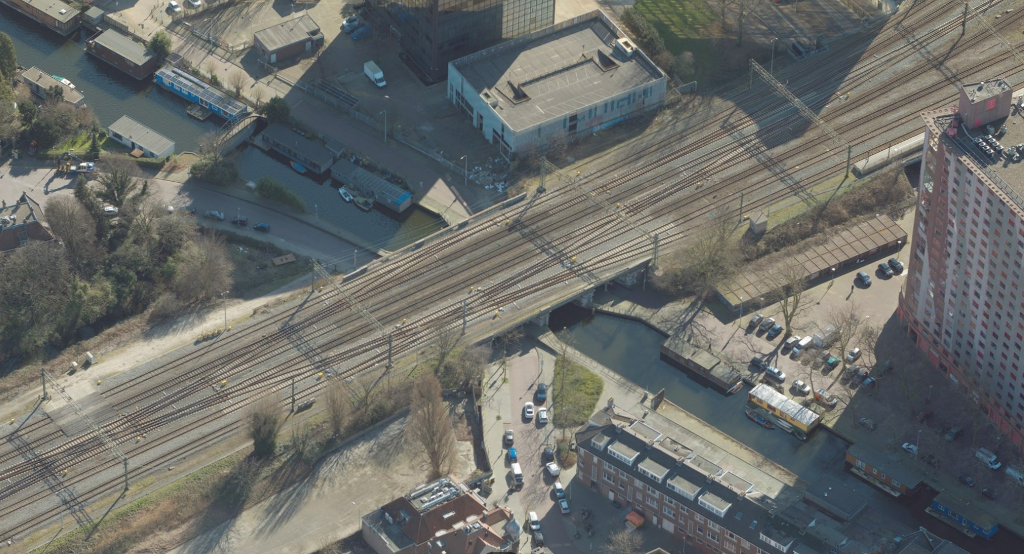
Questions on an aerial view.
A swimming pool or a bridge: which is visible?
bridge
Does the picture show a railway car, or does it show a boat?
boat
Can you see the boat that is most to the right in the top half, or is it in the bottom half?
bottom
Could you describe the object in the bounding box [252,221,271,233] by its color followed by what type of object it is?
blue vehicle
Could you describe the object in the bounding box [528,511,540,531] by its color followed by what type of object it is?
white vehicle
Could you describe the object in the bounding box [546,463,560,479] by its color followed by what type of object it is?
white car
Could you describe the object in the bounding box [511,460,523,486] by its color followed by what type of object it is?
white vehicle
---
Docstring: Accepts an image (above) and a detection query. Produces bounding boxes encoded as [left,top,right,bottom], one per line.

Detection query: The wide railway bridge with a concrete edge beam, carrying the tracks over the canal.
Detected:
[343,188,654,343]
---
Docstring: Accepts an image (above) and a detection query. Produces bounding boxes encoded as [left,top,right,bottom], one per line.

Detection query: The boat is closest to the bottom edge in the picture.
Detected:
[926,493,995,541]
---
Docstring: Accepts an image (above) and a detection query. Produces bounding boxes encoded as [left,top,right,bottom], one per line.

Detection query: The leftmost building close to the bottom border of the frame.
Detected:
[363,475,529,554]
